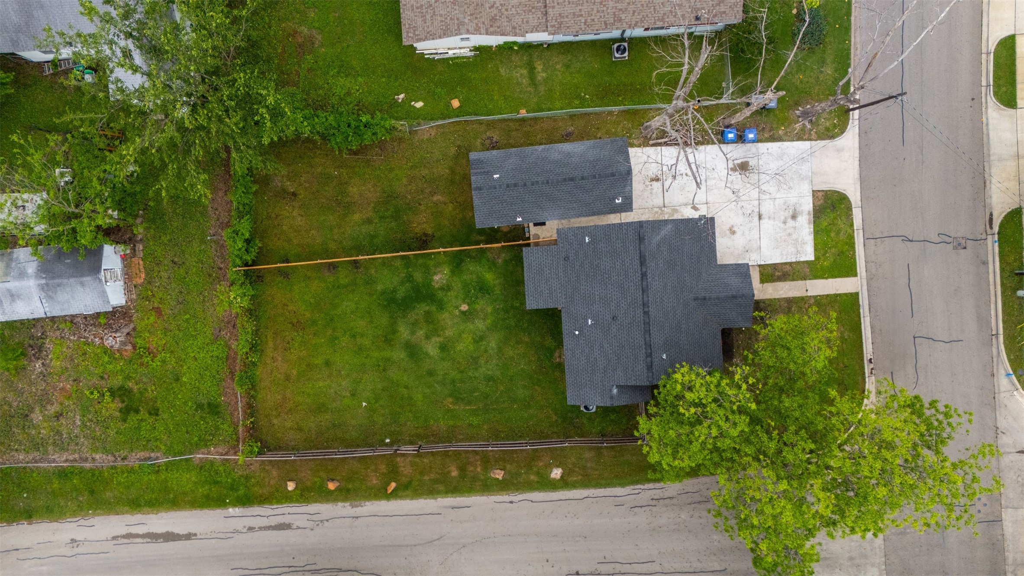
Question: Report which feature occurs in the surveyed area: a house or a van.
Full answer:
It is a house that can be seen here.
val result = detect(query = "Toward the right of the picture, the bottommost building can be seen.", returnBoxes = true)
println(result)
[523,214,757,407]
